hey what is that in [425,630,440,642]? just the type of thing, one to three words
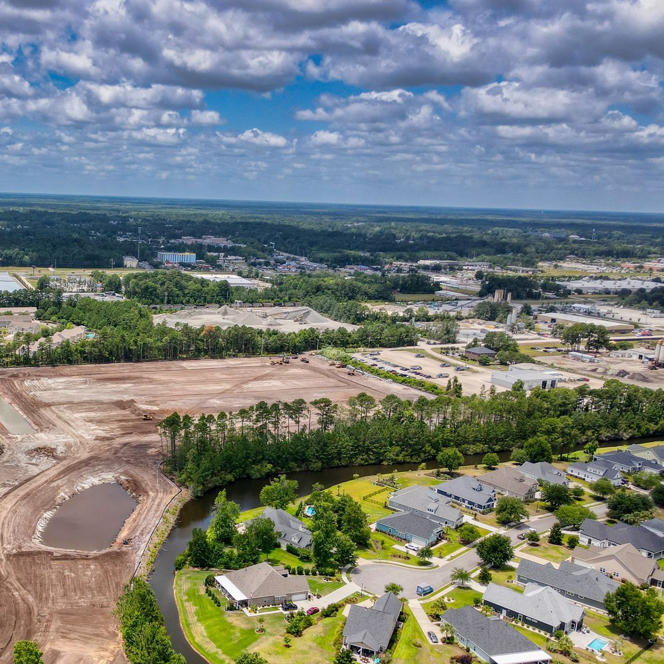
vehicle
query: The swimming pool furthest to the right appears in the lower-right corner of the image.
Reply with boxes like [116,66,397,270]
[587,637,608,651]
